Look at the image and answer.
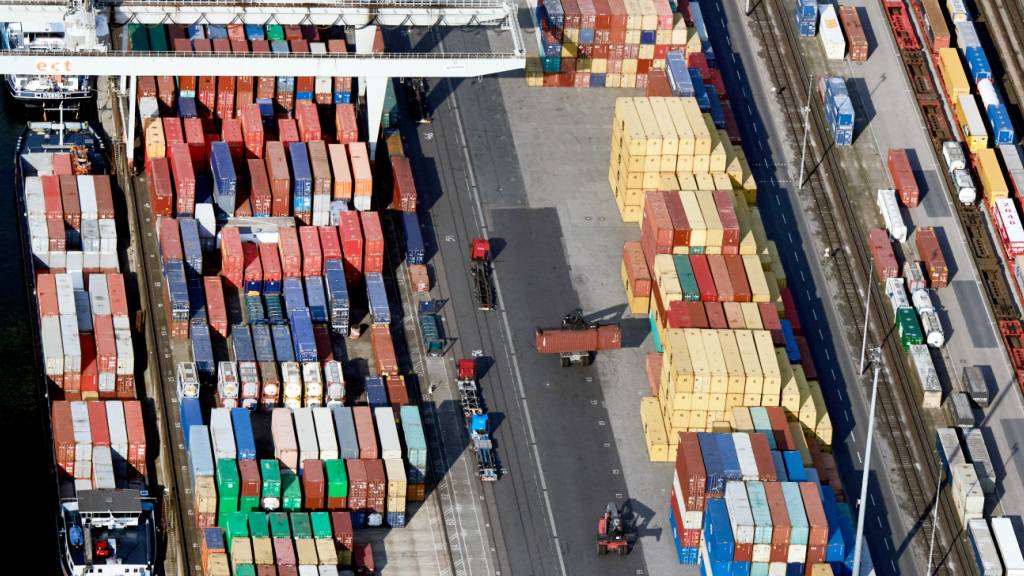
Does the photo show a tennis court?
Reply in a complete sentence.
No, the scene contains no tennis court.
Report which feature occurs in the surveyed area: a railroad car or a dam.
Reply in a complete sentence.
It is a railroad car that can be seen here.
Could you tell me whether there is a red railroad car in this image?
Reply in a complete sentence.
Yes, a red railroad car can be made out from above.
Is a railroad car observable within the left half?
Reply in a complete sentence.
No, I see no railroad car within the left half.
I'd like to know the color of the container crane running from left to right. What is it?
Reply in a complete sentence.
From above, the container crane running from left to right appears white.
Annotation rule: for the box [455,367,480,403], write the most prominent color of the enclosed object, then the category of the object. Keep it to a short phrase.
red truck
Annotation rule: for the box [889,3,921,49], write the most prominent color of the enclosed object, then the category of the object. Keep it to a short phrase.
red rail car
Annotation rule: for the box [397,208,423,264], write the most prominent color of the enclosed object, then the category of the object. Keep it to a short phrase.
blue shipping container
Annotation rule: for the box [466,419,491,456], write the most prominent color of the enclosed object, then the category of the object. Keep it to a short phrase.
blue truck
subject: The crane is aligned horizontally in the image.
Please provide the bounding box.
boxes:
[0,0,528,167]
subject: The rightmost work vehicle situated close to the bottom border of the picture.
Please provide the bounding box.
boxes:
[593,491,632,557]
